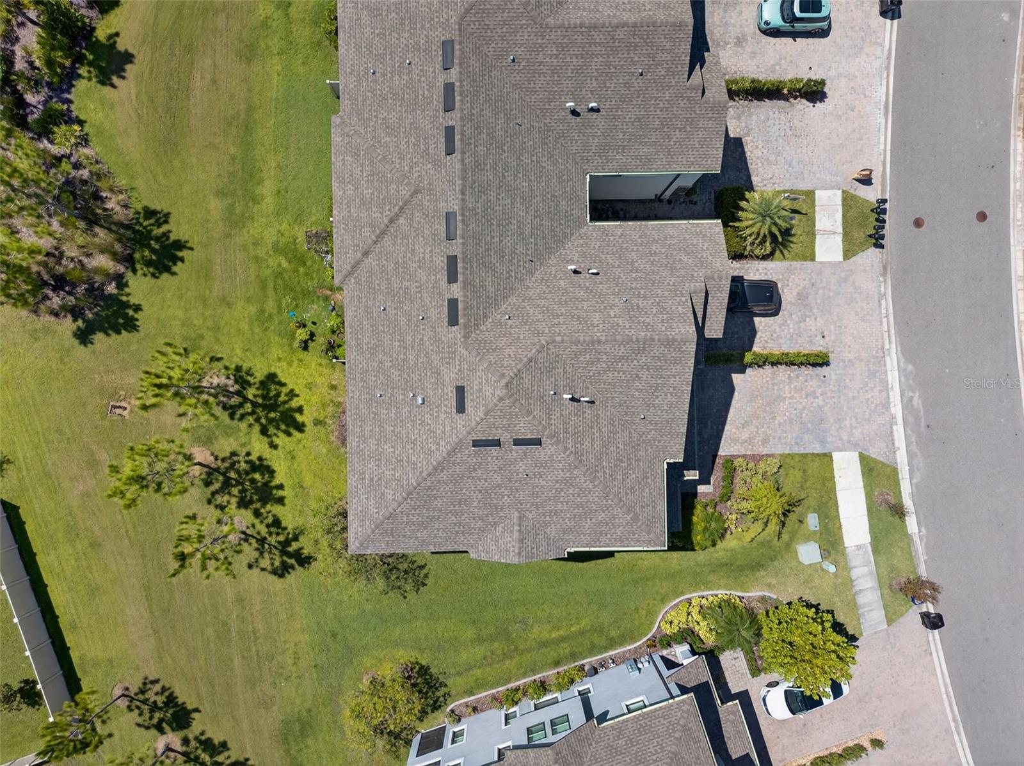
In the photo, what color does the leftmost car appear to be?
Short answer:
black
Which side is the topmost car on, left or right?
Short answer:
right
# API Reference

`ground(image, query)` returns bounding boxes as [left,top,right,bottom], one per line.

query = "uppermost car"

[756,0,833,35]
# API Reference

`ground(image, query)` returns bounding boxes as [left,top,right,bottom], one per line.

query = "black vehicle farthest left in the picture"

[723,278,782,319]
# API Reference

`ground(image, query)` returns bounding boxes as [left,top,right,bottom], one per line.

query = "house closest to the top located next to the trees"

[331,0,728,565]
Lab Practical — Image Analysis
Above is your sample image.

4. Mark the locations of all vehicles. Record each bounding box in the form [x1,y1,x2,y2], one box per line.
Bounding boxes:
[723,278,782,319]
[756,0,833,35]
[758,665,853,717]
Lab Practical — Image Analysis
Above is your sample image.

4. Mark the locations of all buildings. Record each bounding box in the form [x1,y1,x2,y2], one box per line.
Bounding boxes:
[410,639,762,766]
[331,0,728,565]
